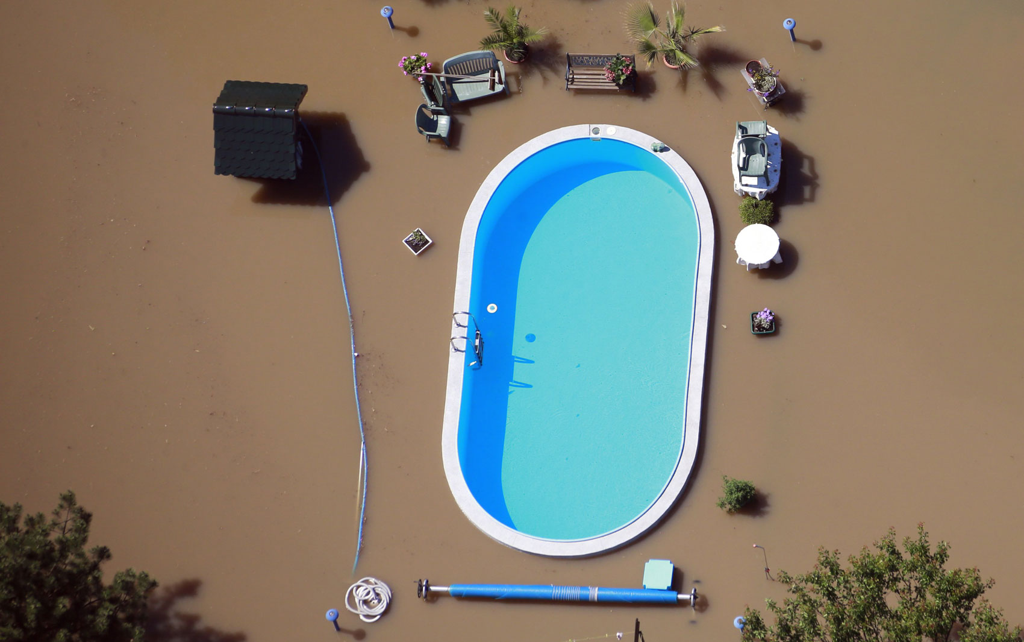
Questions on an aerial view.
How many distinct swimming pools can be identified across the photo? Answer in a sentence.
Altogether the scene contains 1 swimming pool.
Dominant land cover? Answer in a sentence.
The largest share of the image is taken up by water.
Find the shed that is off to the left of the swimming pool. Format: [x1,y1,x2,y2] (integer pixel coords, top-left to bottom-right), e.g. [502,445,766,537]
[214,80,312,179]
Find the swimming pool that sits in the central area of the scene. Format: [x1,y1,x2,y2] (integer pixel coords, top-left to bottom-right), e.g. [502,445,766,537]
[442,124,714,559]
